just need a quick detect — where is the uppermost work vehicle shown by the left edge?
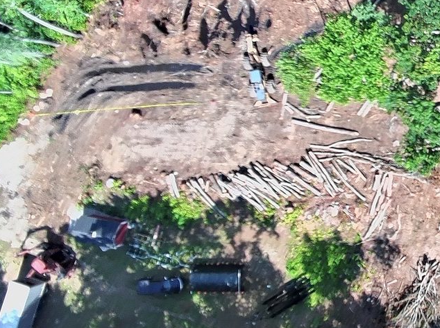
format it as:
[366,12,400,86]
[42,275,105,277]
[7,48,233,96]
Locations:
[11,237,80,283]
